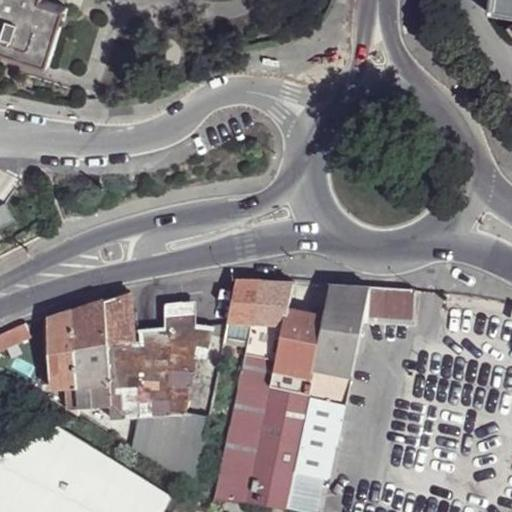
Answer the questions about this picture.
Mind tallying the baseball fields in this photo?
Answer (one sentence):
There are no baseball fields in the image.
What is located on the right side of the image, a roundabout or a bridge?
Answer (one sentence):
Visible on the right side of the image is a roundabout.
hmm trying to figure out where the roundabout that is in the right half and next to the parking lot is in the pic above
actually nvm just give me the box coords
[305,76,466,253]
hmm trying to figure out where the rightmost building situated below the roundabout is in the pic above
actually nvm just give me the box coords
[369,288,414,320]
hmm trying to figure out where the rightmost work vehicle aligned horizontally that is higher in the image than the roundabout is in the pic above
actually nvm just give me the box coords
[306,50,338,62]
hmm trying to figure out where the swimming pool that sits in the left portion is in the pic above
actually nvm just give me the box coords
[12,358,34,378]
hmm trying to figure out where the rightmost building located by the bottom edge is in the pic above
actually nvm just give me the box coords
[286,396,346,512]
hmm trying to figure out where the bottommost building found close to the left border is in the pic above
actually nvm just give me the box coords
[0,425,170,512]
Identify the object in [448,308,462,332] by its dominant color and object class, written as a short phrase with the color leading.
white vehicle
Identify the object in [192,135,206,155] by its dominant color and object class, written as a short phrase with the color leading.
white car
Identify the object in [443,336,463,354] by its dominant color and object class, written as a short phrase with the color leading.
gray car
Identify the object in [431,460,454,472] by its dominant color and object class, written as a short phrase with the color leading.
white vehicle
